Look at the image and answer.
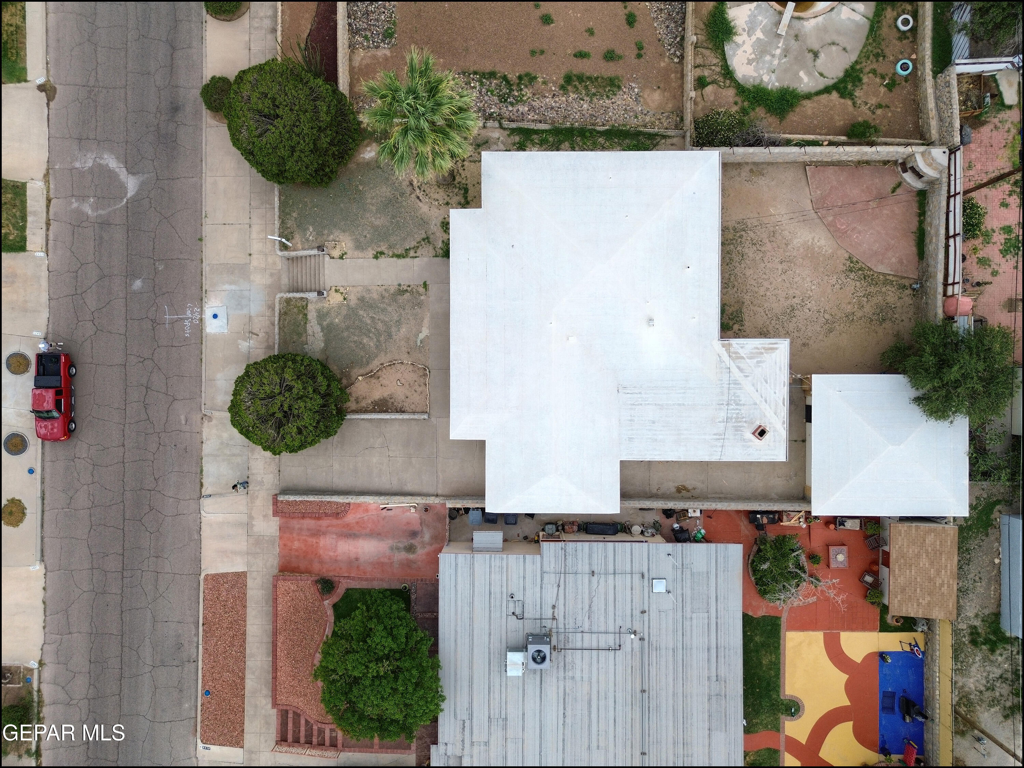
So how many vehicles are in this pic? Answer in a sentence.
The count comes to 1 vehicle.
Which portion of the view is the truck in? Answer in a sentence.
Look in the left portion of the view to spot the truck.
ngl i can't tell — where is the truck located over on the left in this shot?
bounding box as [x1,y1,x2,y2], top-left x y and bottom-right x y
[30,351,78,443]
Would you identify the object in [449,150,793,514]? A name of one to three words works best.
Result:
house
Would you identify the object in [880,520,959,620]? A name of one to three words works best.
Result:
shed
